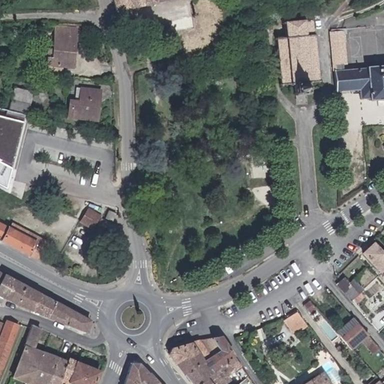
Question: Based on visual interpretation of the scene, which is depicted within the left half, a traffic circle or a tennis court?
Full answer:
You can see a traffic circle within the left half.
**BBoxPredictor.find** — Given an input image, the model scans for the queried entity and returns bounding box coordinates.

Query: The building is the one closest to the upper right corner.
[328,28,348,66]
